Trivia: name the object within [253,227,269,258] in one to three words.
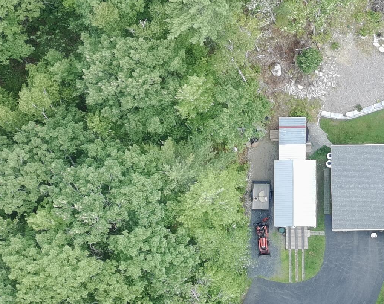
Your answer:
work vehicle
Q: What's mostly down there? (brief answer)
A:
trees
